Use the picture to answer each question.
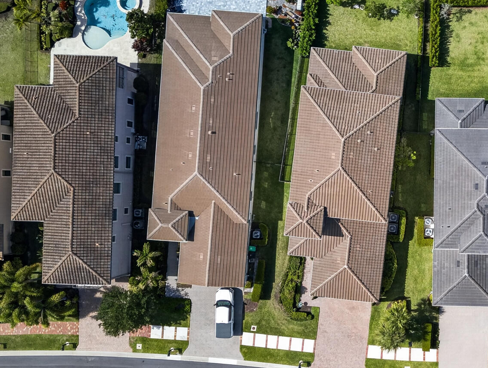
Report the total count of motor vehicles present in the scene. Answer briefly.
1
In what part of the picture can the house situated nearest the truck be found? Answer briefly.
center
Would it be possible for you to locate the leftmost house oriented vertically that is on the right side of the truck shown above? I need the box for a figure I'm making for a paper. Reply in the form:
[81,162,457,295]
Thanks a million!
[283,45,408,303]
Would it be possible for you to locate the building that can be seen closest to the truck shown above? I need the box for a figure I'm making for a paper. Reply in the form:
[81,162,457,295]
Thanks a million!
[147,9,264,287]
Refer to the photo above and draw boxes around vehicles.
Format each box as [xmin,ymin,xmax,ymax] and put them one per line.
[213,287,236,339]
